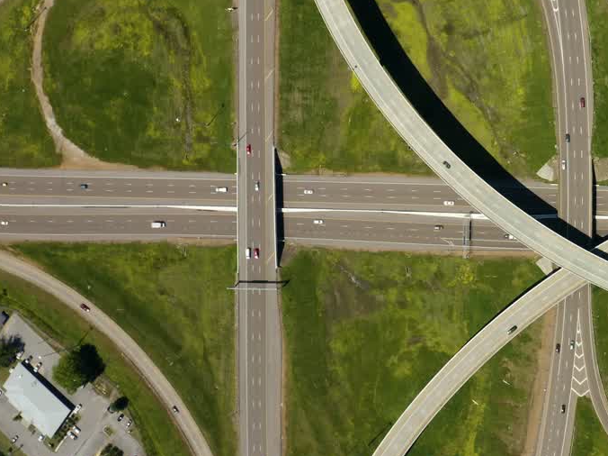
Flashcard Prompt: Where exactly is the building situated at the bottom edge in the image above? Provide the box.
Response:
[2,361,75,439]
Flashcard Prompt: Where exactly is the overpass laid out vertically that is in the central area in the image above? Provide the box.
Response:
[235,142,278,272]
